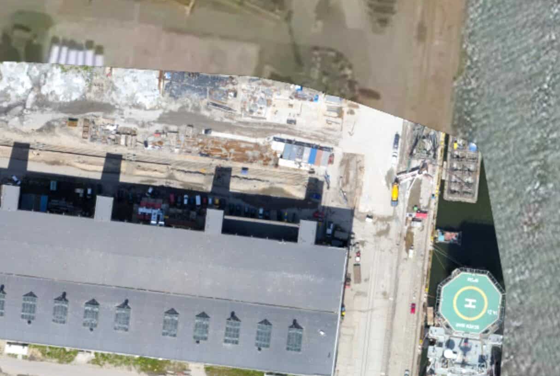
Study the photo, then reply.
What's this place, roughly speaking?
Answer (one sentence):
It's a port.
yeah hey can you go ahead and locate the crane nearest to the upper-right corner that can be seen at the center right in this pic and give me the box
[392,162,430,206]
